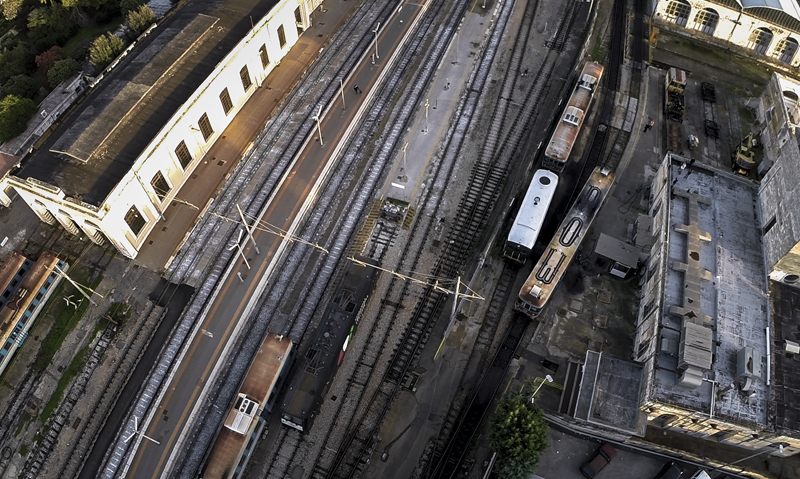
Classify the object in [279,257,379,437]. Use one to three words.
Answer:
rail car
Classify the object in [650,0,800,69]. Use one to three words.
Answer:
building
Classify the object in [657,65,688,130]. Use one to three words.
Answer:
vehicle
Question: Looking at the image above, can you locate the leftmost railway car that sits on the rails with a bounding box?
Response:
[197,333,298,479]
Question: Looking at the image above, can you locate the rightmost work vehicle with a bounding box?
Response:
[734,123,764,171]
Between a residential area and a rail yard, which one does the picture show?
rail yard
